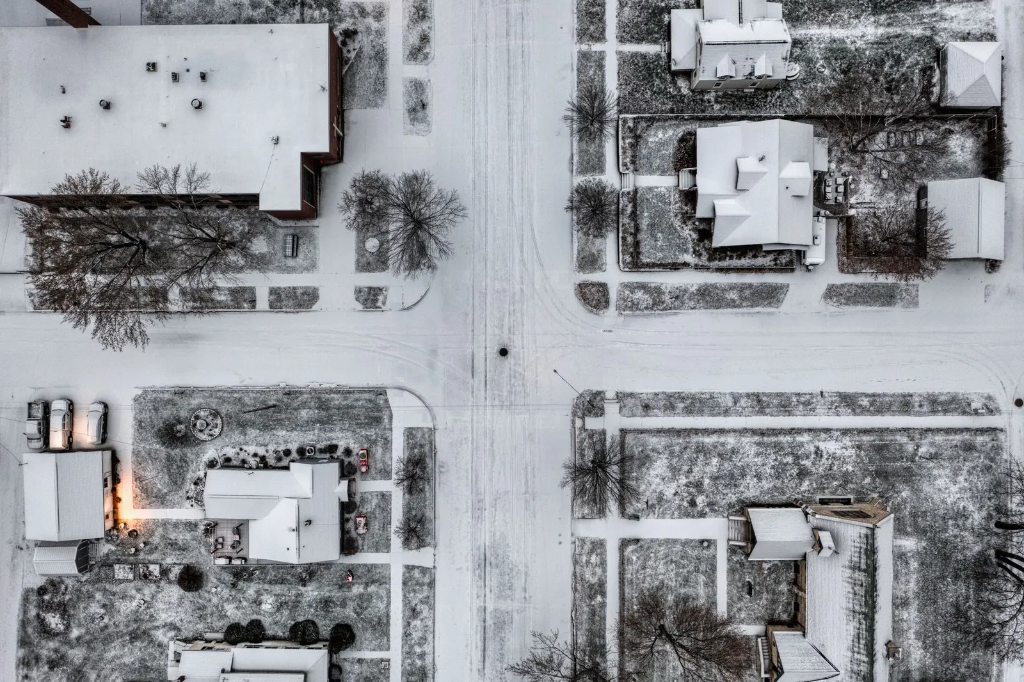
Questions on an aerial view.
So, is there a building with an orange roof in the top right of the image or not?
No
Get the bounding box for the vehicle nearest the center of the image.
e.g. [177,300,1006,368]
[357,449,369,472]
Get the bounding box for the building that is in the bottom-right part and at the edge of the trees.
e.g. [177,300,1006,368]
[726,493,901,682]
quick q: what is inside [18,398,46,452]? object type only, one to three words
truck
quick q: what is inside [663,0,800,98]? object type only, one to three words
house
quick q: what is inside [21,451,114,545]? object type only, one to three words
building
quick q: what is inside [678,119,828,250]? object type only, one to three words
house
